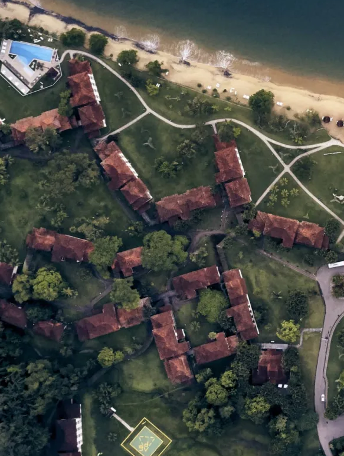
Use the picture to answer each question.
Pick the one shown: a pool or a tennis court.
pool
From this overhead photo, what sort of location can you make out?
residential area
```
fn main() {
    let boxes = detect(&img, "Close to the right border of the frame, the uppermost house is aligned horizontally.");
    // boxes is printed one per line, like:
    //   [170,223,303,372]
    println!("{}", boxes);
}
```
[249,214,330,250]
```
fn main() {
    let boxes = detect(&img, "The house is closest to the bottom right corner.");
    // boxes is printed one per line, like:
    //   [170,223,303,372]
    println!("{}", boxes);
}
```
[252,342,290,385]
